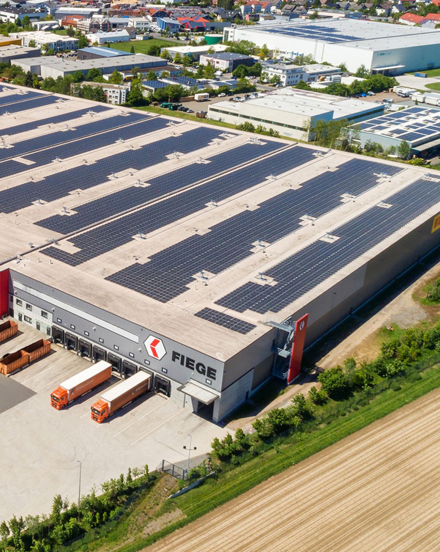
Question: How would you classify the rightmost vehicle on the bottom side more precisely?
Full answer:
The rightmost vehicle on the bottom side is a truck.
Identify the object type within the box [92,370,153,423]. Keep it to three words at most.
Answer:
truck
